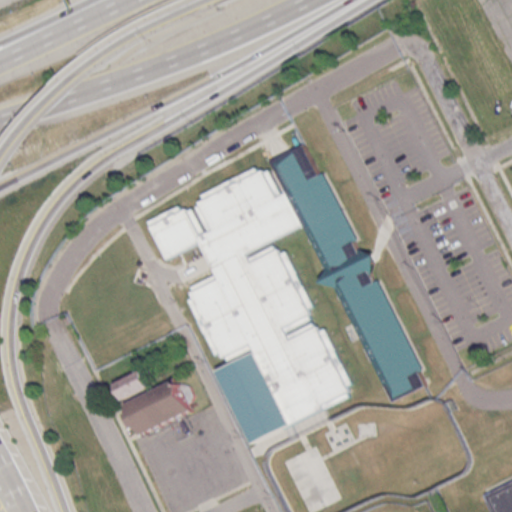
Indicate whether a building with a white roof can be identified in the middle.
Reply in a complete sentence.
Yes, looking in the middle, one can make out a building with a white roof.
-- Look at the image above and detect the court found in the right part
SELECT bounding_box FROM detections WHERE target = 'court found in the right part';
[286,448,342,512]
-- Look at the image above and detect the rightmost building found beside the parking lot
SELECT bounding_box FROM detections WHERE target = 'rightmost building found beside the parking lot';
[271,146,428,402]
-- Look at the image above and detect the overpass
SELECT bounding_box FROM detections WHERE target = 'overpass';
[0,0,236,182]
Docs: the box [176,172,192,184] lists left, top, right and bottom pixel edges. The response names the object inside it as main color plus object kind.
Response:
white vehicle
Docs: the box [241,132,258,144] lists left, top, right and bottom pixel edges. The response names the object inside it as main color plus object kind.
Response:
white vehicle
